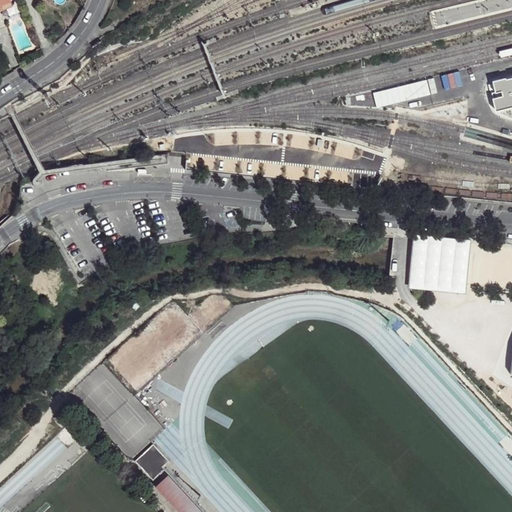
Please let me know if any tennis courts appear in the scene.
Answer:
Yes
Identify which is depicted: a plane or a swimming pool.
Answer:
swimming pool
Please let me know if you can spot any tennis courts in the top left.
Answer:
No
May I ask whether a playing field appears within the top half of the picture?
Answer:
No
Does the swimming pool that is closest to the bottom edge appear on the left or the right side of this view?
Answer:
left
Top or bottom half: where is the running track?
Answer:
bottom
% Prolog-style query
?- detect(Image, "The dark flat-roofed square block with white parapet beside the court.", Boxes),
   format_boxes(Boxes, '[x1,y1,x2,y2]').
[136,446,168,481]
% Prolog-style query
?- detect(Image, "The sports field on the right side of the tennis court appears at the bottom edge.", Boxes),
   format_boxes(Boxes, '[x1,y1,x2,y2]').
[206,320,512,512]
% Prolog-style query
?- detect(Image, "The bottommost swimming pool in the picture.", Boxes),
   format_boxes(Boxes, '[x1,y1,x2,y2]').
[10,14,36,54]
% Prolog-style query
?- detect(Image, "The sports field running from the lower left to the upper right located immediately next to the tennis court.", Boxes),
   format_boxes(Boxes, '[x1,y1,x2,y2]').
[108,305,202,390]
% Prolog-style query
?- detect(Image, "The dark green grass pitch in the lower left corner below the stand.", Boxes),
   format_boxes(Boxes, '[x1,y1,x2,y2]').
[17,451,150,512]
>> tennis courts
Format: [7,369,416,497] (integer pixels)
[74,364,164,460]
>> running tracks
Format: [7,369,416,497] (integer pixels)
[154,293,512,512]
